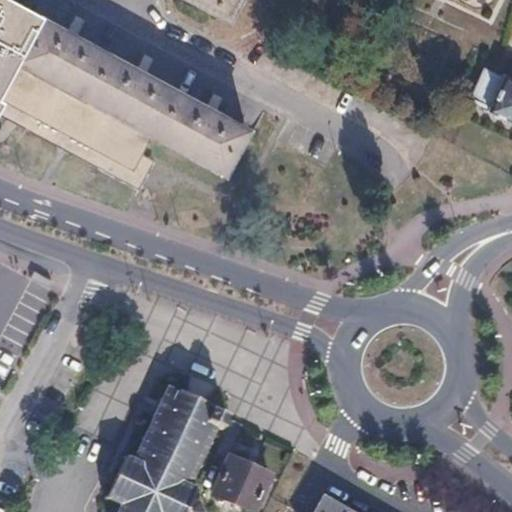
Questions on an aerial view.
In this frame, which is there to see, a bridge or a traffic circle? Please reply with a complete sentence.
The one in the frame is a traffic circle.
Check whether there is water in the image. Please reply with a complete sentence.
No, water can't be seen anywhere here.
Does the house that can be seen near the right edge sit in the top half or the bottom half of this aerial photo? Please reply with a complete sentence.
The top half of the photo is where the house that can be seen near the right edge is.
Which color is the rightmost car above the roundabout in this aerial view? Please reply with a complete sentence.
The rightmost car above the roundabout looks white in the image.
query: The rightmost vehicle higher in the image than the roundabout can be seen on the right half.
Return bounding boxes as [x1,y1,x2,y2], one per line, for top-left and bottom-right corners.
[423,258,442,278]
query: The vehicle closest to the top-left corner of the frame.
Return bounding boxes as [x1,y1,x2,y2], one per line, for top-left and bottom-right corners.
[146,6,166,28]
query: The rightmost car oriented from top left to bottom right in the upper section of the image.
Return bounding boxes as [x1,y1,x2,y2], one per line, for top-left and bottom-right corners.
[214,46,235,64]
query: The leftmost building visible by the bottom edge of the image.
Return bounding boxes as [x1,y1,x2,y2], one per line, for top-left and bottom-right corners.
[106,381,232,512]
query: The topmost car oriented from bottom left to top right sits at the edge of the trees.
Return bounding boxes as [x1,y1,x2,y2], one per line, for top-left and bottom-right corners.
[248,41,265,62]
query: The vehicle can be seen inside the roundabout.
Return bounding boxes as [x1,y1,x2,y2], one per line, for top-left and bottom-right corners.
[350,330,369,350]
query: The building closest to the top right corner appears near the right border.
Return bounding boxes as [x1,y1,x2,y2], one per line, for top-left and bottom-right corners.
[468,67,512,122]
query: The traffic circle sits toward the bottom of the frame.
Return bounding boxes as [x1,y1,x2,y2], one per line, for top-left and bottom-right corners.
[329,292,478,440]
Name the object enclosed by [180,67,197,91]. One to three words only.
car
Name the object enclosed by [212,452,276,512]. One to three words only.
house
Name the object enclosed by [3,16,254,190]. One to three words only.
building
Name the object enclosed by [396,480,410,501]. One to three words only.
vehicle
